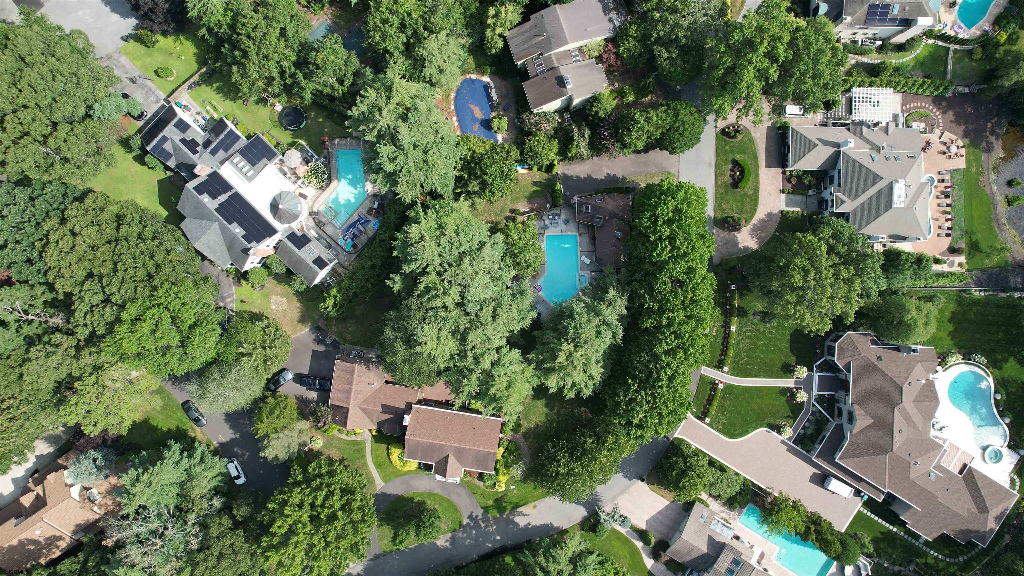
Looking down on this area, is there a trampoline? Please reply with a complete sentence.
Yes, looking at the shot, I can spot a trampoline.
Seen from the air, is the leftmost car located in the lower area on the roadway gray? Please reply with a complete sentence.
Yes, the leftmost car located in the lower area on the roadway is indeed gray.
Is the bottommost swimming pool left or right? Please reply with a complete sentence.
You can find the bottommost swimming pool on the right side of the picture.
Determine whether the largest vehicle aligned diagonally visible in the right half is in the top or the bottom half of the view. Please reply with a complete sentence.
The bottom half of the photo is where the largest vehicle aligned diagonally visible in the right half is.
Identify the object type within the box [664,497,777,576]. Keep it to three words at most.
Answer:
house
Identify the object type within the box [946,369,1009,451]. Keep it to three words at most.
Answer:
swimming pool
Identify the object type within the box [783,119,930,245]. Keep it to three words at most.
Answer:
house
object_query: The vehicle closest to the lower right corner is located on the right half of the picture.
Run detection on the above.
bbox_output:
[818,472,853,498]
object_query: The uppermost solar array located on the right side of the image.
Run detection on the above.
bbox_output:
[866,4,909,26]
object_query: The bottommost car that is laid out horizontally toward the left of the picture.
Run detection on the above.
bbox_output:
[298,376,332,393]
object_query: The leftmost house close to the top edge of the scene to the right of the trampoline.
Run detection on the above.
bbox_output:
[506,0,623,114]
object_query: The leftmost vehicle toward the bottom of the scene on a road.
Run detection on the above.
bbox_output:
[181,398,207,429]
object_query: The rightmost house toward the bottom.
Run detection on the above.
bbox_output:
[806,331,1020,548]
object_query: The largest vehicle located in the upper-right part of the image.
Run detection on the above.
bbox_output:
[779,104,812,120]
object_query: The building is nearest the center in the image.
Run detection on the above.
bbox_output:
[575,193,633,269]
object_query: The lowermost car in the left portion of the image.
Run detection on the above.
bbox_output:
[225,456,249,486]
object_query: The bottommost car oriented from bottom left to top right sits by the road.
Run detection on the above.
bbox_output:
[265,366,297,393]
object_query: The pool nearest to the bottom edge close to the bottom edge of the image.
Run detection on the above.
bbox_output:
[737,503,836,576]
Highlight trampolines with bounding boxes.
[278,101,307,130]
